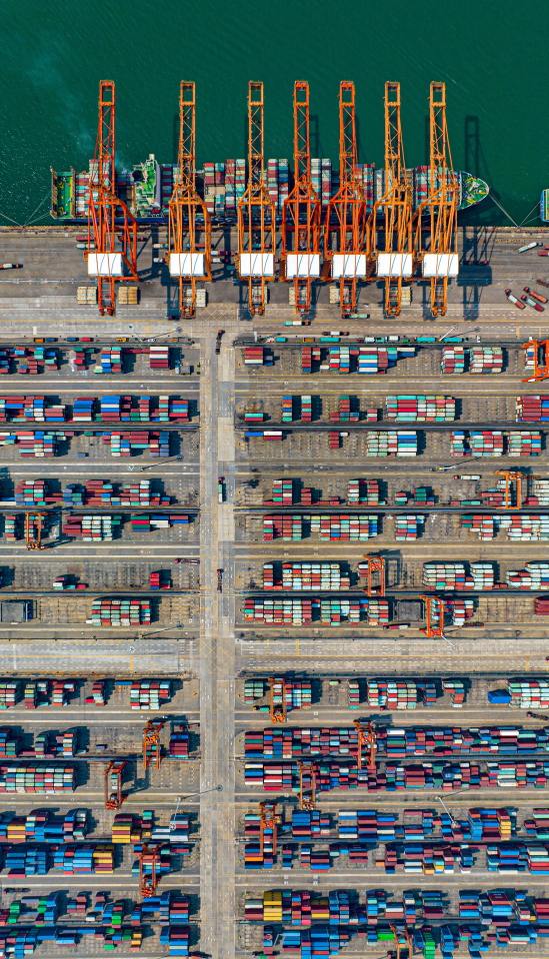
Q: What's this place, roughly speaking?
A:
port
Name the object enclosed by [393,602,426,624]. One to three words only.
shed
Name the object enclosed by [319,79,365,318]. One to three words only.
container crane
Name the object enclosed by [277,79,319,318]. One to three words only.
container crane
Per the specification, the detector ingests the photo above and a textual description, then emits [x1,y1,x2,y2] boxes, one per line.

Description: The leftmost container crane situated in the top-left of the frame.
[84,79,149,318]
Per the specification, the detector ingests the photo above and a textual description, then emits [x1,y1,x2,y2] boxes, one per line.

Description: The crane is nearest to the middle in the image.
[360,553,382,598]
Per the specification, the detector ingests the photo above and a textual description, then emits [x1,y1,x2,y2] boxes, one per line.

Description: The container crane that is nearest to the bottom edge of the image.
[384,923,408,959]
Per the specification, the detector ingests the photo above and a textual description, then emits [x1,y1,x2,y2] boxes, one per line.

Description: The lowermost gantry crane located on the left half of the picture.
[141,841,165,904]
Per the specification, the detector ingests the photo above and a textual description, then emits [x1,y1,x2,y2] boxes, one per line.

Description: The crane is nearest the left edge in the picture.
[26,510,55,558]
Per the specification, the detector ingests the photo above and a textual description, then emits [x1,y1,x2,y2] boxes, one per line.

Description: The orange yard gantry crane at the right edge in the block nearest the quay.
[515,334,546,383]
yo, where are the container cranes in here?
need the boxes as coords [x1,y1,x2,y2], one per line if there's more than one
[351,716,375,770]
[319,79,365,318]
[384,923,408,959]
[403,79,457,318]
[107,757,133,814]
[233,79,278,318]
[141,841,165,904]
[143,716,168,770]
[165,79,220,318]
[295,757,316,815]
[490,470,519,514]
[26,510,55,558]
[258,804,278,863]
[84,79,149,318]
[360,553,382,598]
[515,334,546,383]
[277,79,319,318]
[415,595,440,643]
[362,79,410,318]
[267,677,288,731]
